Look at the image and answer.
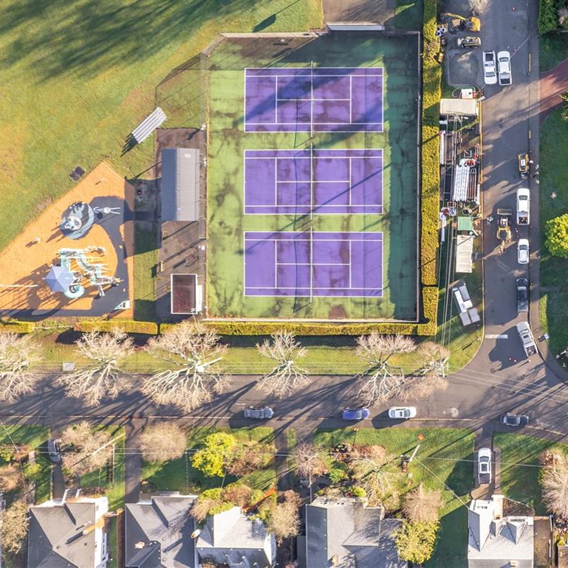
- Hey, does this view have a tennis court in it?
Yes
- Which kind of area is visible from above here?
residential area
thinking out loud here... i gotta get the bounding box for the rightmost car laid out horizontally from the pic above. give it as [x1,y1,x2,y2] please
[501,413,529,427]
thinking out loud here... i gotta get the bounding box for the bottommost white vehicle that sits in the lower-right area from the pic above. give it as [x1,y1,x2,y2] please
[477,448,491,485]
